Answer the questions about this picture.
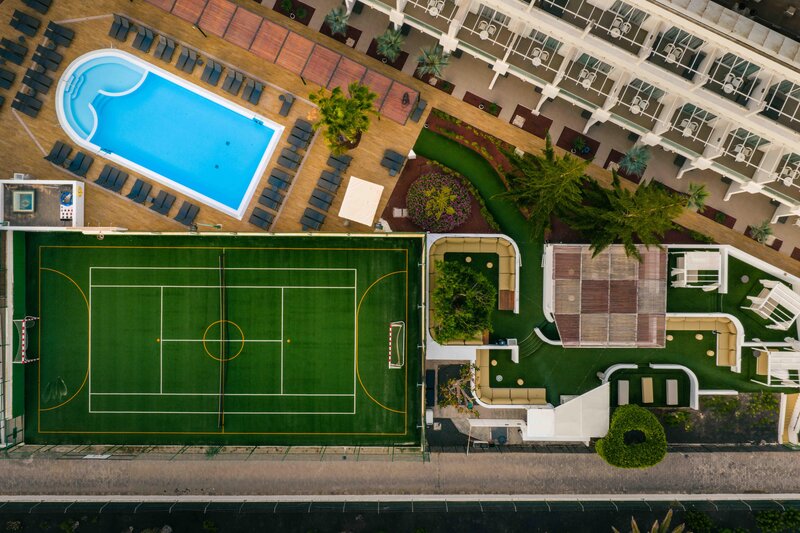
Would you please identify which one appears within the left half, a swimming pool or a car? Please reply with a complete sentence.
The one visible within the left half is a swimming pool.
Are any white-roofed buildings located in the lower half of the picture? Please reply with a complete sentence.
Yes, I can see a white-roofed building in the lower half of the picture.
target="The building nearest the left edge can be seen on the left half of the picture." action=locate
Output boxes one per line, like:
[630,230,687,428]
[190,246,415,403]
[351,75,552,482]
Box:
[0,179,85,232]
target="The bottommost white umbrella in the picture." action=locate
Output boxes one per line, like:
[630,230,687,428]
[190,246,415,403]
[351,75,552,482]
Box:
[338,176,384,227]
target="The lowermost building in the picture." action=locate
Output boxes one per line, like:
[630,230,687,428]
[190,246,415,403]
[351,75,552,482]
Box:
[517,381,609,448]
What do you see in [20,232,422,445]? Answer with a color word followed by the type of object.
green sports court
